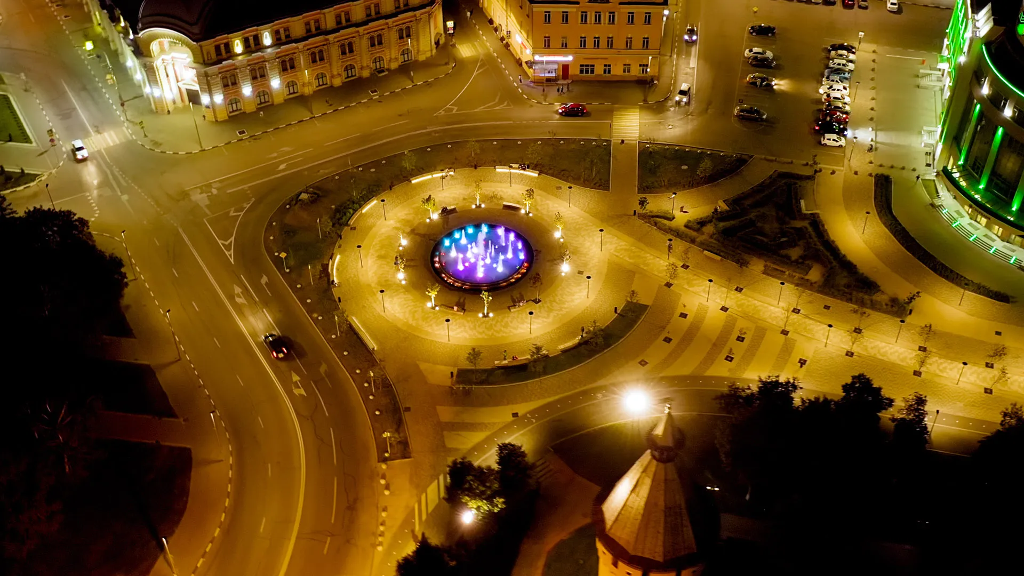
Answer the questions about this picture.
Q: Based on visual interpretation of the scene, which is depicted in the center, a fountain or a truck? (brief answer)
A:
fountain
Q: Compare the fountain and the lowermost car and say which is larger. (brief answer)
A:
the fountain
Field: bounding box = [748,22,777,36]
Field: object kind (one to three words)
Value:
car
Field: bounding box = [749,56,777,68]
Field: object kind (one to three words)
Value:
vehicle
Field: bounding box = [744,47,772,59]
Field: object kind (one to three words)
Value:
vehicle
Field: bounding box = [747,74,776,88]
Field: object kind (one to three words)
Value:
car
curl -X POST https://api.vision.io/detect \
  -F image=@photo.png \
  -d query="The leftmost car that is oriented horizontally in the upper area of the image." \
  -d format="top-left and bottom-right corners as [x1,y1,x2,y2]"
[559,104,589,117]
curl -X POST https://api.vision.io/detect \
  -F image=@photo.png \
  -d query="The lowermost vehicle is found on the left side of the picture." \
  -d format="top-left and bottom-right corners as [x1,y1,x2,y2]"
[263,331,288,359]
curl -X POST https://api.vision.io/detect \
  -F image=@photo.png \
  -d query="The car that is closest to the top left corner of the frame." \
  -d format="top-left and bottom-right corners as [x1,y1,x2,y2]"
[69,136,88,161]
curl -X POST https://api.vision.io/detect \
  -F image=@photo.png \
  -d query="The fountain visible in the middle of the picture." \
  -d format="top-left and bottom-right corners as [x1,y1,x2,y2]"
[429,219,534,292]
